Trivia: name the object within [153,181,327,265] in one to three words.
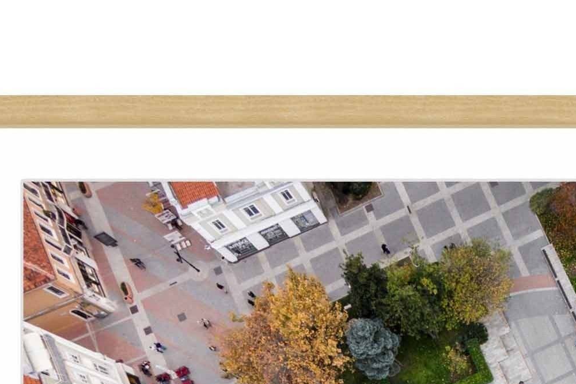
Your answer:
building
